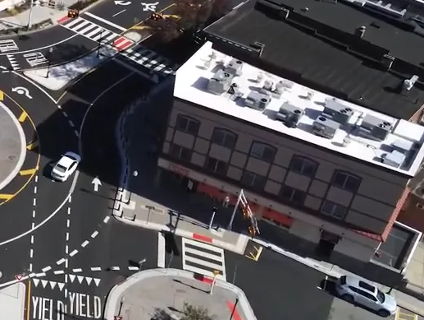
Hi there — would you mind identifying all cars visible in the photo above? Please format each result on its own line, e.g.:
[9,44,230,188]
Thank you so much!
[340,273,401,317]
[50,151,80,180]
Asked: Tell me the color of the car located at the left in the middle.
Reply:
white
